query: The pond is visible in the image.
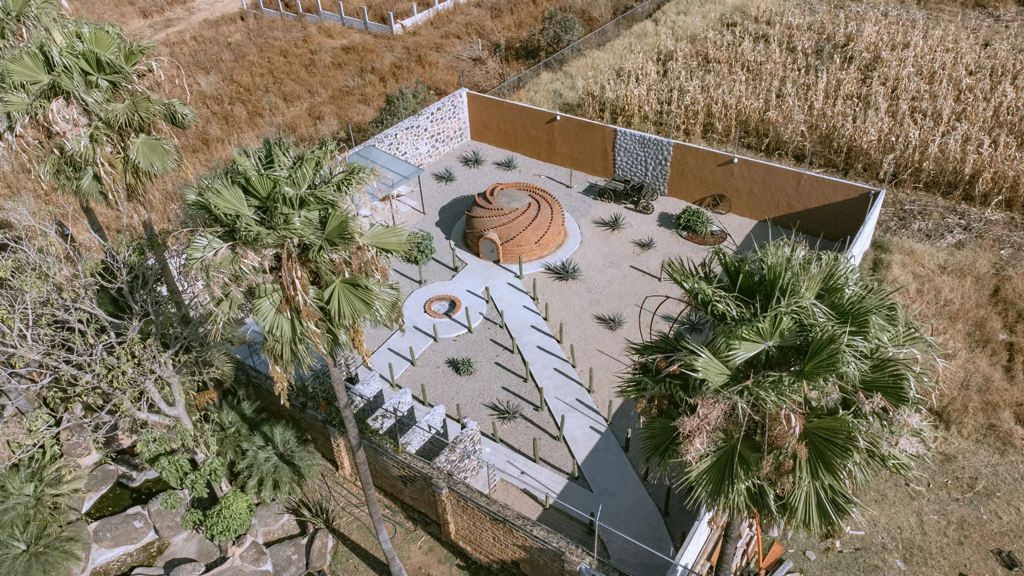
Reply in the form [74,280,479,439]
[0,375,331,576]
